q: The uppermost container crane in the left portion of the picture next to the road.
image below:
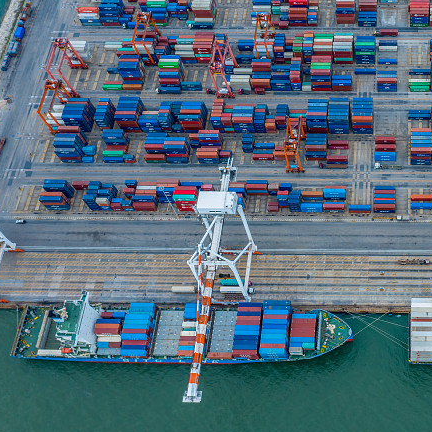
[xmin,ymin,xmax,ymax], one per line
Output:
[134,10,166,66]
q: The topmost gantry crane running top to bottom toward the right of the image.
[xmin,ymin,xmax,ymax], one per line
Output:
[254,10,277,66]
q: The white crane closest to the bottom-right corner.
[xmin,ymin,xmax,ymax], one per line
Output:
[182,157,265,399]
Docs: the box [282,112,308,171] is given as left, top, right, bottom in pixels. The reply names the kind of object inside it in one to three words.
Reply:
container crane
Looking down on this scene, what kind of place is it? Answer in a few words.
port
